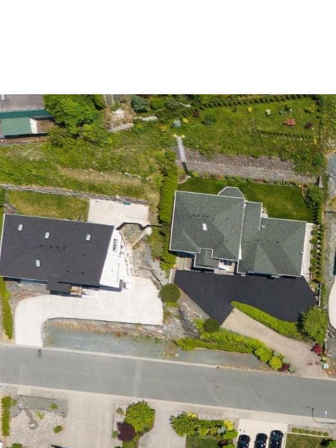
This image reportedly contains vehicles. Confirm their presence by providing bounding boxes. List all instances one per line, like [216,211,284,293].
[252,434,266,448]
[235,436,249,448]
[267,431,281,448]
